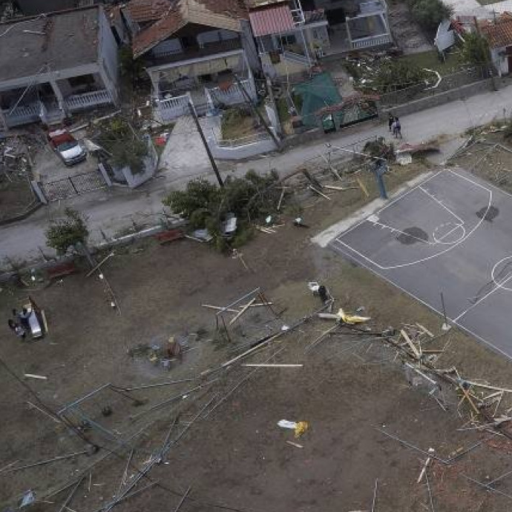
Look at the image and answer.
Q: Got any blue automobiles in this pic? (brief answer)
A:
No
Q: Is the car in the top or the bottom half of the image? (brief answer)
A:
top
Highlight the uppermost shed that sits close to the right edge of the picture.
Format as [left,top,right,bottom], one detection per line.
[450,0,495,39]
